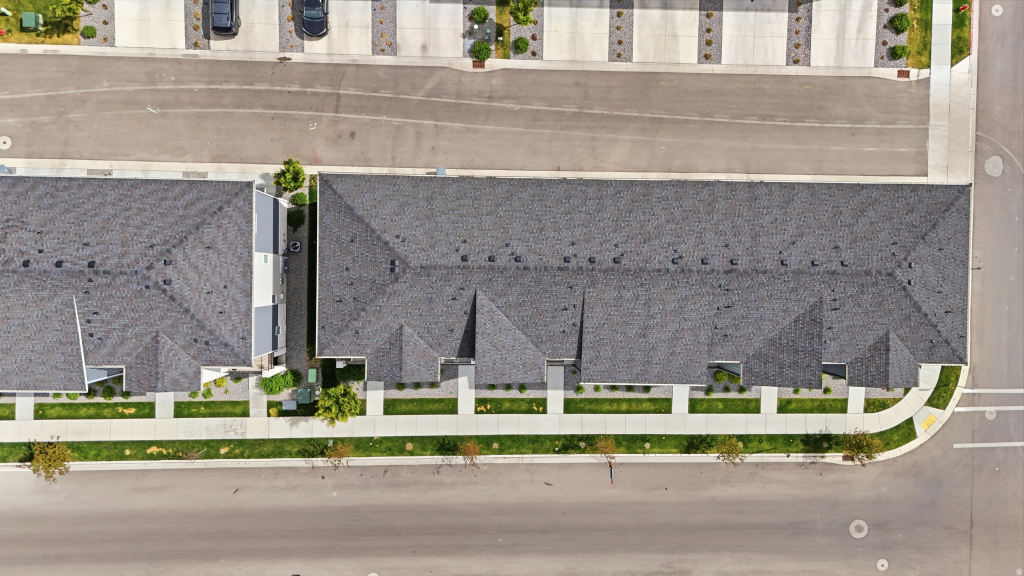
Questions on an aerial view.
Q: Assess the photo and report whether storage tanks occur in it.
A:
No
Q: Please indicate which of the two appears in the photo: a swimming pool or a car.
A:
car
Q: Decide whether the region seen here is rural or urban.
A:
urban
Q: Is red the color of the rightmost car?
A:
No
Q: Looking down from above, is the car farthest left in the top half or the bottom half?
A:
top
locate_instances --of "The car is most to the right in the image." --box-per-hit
[299,0,331,38]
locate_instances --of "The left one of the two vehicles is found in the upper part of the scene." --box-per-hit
[209,0,241,36]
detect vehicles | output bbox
[209,0,241,36]
[299,0,331,38]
